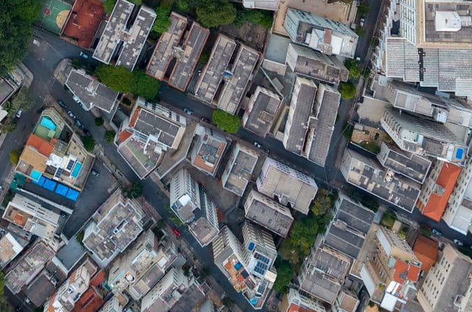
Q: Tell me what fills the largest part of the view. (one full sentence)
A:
The bulk of the photo consists of buildings.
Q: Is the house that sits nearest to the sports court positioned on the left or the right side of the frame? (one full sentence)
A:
It is on the left.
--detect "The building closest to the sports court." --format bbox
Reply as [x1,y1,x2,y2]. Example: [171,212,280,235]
[60,0,104,47]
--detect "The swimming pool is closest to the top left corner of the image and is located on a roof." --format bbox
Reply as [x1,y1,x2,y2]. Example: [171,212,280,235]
[40,115,57,130]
